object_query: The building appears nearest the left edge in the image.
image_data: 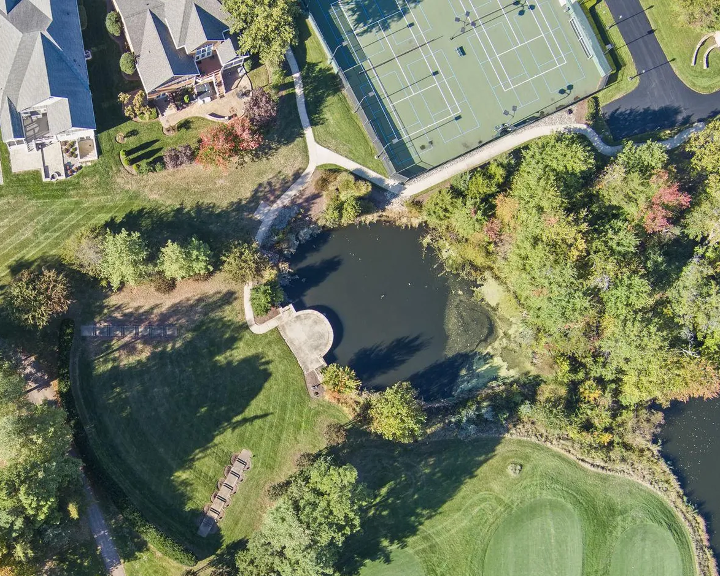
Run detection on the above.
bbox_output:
[0,0,98,181]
